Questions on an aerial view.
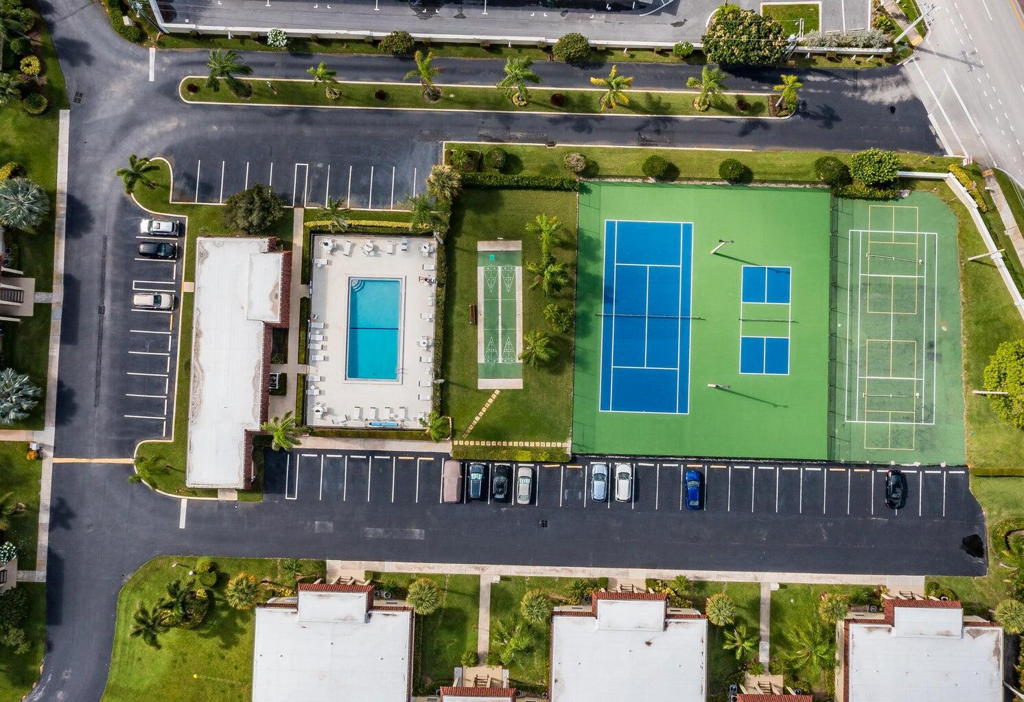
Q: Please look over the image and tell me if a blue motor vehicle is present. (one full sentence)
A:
Yes, looking at the shot, I can spot a blue motor vehicle.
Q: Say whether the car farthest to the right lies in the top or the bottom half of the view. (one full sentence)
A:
It is in the bottom half that the car farthest to the right appears.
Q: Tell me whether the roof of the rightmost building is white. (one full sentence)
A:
Yes, the roof of the rightmost building is indeed white.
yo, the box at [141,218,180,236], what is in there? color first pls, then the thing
white car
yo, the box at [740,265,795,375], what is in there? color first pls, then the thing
blue sports court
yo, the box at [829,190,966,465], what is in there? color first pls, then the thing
green tennis court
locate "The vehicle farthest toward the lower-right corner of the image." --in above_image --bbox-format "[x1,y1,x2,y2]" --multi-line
[884,469,904,509]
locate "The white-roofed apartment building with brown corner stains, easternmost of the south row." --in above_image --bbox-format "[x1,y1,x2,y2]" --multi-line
[833,585,1010,702]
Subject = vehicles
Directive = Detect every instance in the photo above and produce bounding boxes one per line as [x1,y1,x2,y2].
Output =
[684,470,702,510]
[138,241,178,259]
[516,466,534,505]
[884,469,904,509]
[133,292,174,311]
[467,463,485,500]
[615,463,633,502]
[141,218,180,236]
[492,464,510,504]
[589,462,608,502]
